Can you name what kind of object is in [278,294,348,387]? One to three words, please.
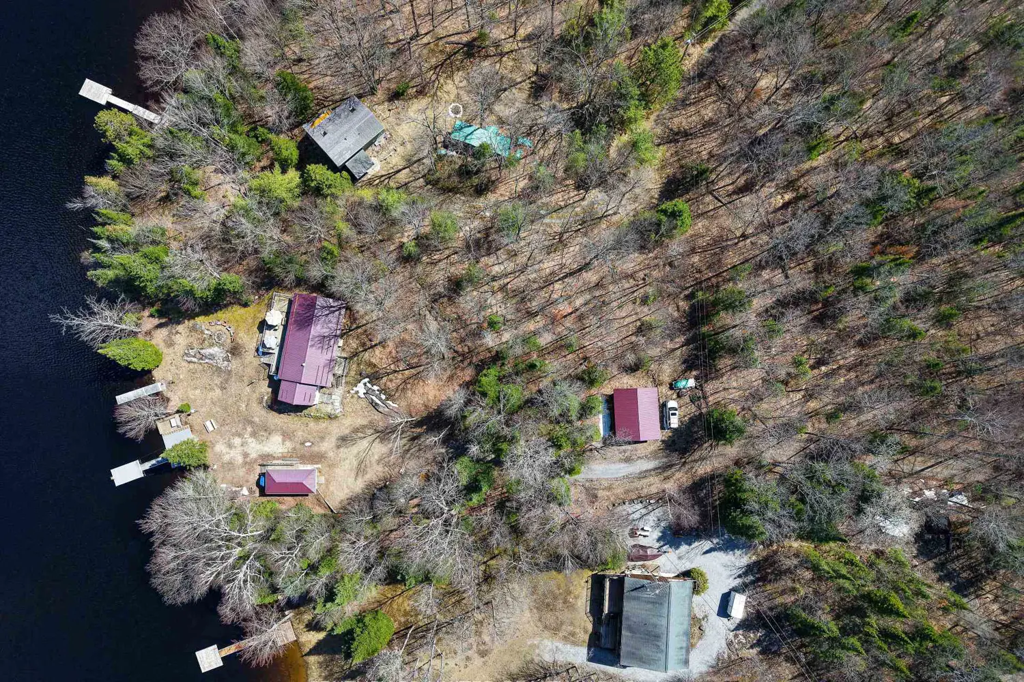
building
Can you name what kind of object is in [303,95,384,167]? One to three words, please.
building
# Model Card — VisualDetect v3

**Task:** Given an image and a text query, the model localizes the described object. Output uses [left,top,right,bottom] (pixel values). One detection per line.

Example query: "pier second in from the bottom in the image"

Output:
[110,454,178,487]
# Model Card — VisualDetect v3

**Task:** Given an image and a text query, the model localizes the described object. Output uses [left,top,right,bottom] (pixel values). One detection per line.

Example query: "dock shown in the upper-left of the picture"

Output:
[78,78,170,126]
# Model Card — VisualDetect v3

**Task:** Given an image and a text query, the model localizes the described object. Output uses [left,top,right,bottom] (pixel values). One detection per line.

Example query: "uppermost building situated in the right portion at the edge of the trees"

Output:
[614,387,661,441]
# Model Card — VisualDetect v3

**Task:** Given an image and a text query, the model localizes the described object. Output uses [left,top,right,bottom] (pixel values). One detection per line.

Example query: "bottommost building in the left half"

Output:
[265,468,318,495]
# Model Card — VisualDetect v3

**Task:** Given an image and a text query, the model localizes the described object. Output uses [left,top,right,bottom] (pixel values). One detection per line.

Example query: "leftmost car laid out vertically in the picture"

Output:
[665,399,679,428]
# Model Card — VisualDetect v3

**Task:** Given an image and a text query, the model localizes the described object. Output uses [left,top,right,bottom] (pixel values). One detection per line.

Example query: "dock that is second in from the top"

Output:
[115,382,167,405]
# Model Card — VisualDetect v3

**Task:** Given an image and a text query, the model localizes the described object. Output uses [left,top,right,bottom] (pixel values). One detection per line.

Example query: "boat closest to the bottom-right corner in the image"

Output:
[627,546,670,562]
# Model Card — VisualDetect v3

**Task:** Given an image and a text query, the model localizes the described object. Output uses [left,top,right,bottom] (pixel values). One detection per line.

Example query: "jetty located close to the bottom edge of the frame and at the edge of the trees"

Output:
[195,621,297,673]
